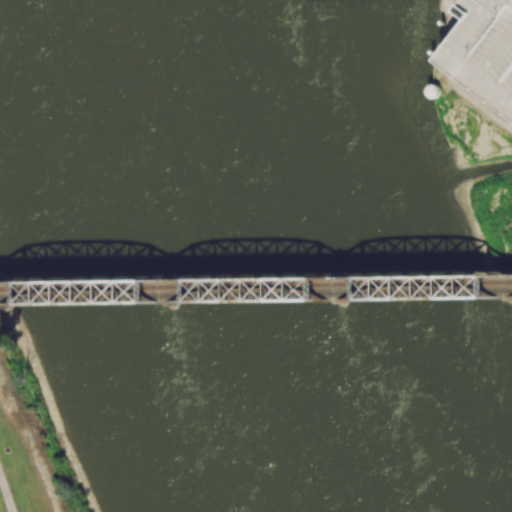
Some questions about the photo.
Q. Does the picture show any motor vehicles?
No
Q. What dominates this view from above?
water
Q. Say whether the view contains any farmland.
No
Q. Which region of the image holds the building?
top right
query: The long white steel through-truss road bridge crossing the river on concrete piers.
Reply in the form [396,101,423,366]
[0,273,512,310]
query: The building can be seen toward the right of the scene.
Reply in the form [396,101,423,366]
[429,0,512,124]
